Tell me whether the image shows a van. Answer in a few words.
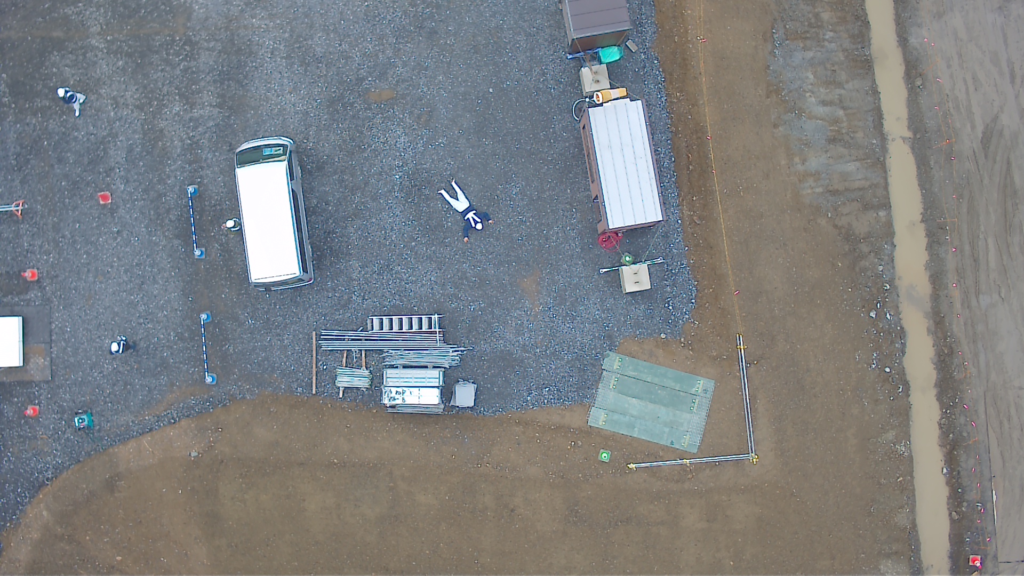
Yes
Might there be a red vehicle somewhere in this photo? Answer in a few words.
No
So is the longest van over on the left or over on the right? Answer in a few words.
left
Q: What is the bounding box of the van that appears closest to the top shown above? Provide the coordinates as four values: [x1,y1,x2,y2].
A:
[235,134,311,291]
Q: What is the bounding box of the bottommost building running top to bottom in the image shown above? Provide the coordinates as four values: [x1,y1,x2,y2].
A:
[581,95,666,236]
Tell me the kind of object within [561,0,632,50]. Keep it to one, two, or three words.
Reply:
shed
